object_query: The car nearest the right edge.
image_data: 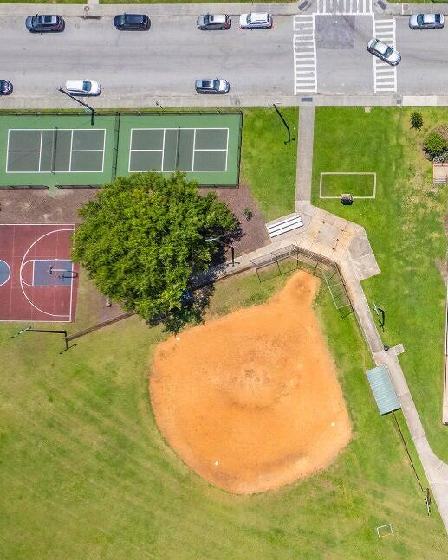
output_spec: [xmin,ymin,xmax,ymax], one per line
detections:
[410,11,444,29]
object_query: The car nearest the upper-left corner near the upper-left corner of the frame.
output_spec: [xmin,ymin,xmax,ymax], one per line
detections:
[27,12,66,32]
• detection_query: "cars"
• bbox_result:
[27,12,66,32]
[410,11,444,29]
[194,76,230,94]
[366,38,402,66]
[65,78,102,96]
[0,77,16,95]
[115,11,151,31]
[240,10,274,29]
[198,11,232,30]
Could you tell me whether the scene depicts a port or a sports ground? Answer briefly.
sports ground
